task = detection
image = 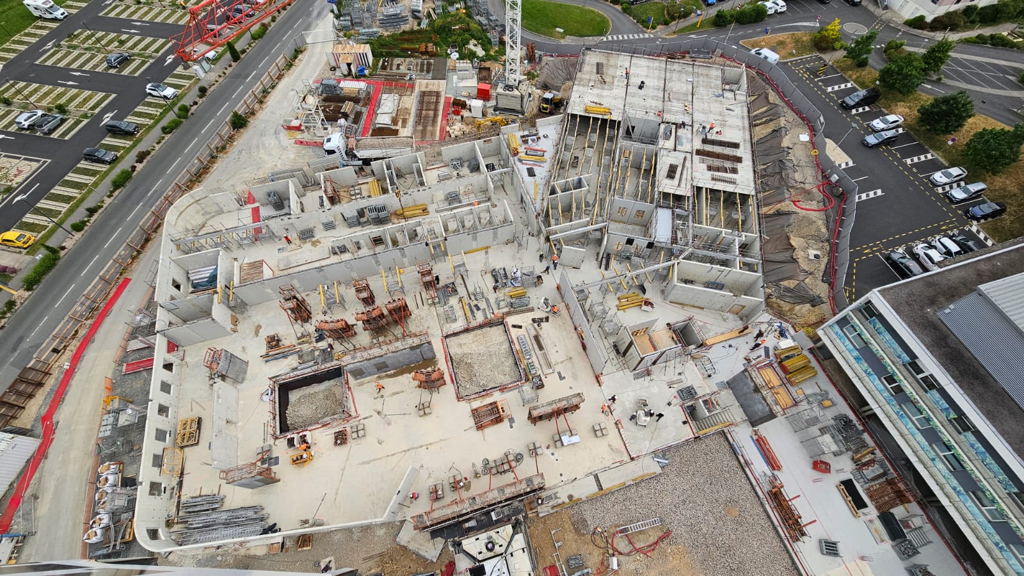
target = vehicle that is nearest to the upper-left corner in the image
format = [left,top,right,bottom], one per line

[21,0,66,21]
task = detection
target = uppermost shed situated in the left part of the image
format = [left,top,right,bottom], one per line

[327,50,371,82]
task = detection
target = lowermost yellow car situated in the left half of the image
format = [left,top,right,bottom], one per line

[0,228,38,251]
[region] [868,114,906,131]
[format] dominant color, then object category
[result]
white car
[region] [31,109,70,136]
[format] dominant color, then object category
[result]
gray car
